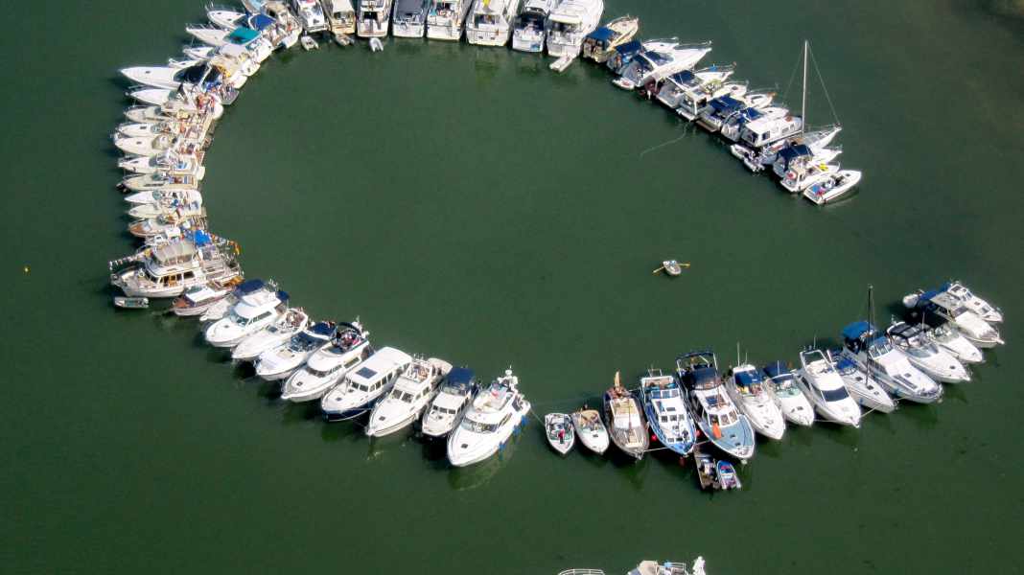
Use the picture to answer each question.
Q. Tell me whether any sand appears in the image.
No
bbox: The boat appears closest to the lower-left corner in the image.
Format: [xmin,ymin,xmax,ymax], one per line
[114,295,151,309]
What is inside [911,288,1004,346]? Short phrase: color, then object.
white boat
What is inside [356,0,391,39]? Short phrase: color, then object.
white boat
